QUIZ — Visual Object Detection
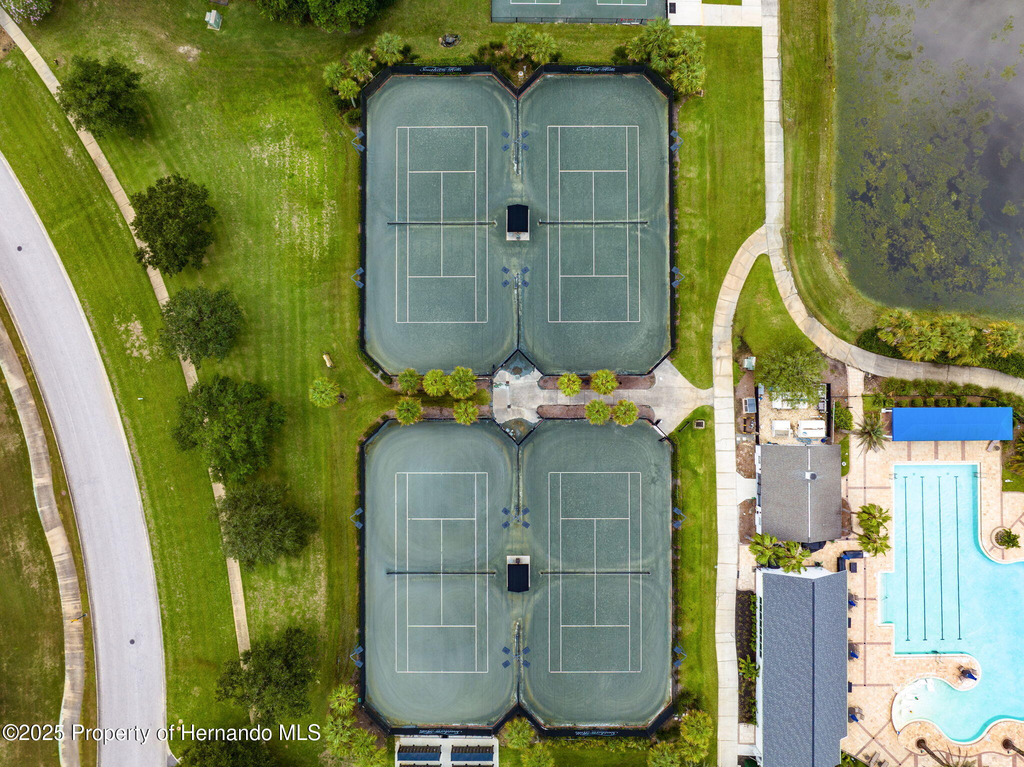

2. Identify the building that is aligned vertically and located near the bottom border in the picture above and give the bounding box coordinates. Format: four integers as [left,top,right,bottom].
[750,570,849,767]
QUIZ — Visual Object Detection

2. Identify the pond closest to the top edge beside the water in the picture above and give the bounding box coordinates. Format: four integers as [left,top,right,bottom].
[829,0,1024,328]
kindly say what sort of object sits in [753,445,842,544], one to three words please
building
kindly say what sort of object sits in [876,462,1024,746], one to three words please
swimming pool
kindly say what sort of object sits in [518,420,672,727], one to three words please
tennis court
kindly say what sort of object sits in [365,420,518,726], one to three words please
tennis court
